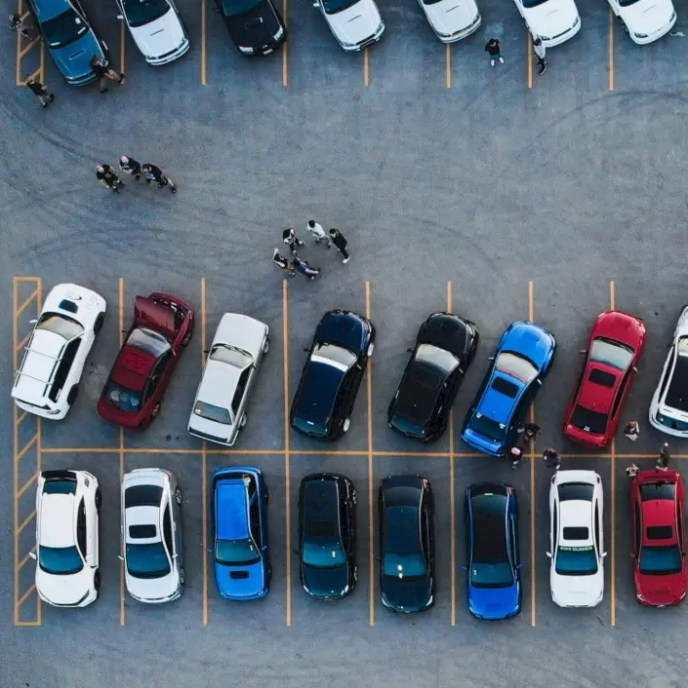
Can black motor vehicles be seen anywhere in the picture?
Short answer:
Yes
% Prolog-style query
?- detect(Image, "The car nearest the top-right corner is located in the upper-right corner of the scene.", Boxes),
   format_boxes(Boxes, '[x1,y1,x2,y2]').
[606,0,674,49]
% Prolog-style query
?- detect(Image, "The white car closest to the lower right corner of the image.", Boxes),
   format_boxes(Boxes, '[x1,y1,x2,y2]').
[544,471,611,609]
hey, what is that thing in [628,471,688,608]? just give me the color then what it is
red car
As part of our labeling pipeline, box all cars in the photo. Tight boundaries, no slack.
[606,0,674,49]
[390,311,474,445]
[10,0,100,92]
[514,0,582,52]
[187,310,271,449]
[109,0,189,72]
[373,477,439,614]
[98,293,193,432]
[13,283,106,423]
[29,472,103,609]
[651,307,688,441]
[544,471,611,609]
[309,0,378,58]
[293,474,358,600]
[207,467,271,602]
[412,0,478,49]
[463,319,551,460]
[628,471,688,608]
[207,0,280,61]
[116,469,185,605]
[460,485,526,622]
[292,309,370,444]
[563,309,644,451]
